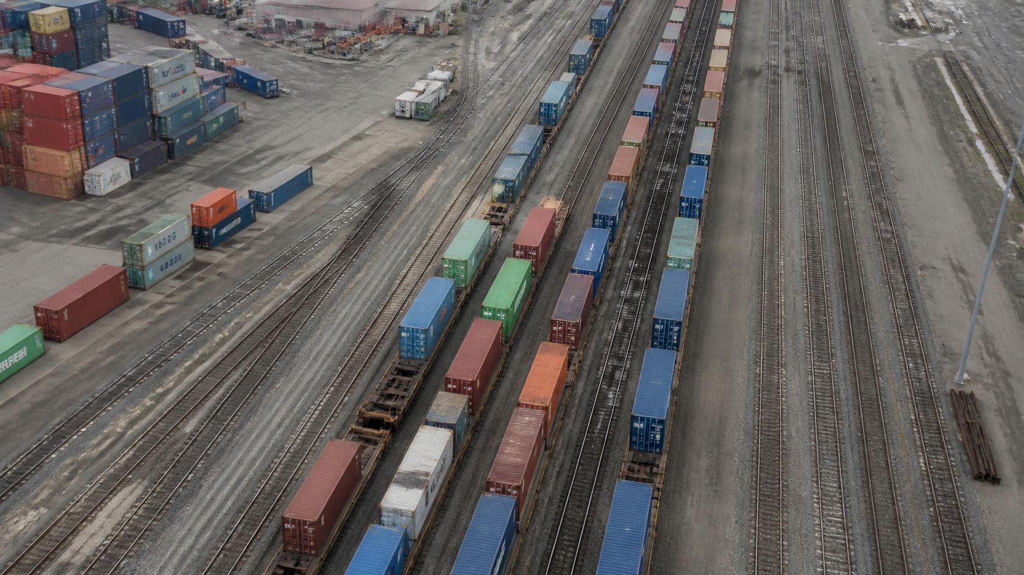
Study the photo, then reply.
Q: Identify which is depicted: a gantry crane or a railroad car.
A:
railroad car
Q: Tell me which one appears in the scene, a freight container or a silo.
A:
freight container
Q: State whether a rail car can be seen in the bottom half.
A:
Yes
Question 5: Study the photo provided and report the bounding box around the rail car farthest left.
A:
[262,444,383,575]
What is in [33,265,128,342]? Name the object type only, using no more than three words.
shipping container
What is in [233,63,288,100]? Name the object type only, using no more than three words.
shipping container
